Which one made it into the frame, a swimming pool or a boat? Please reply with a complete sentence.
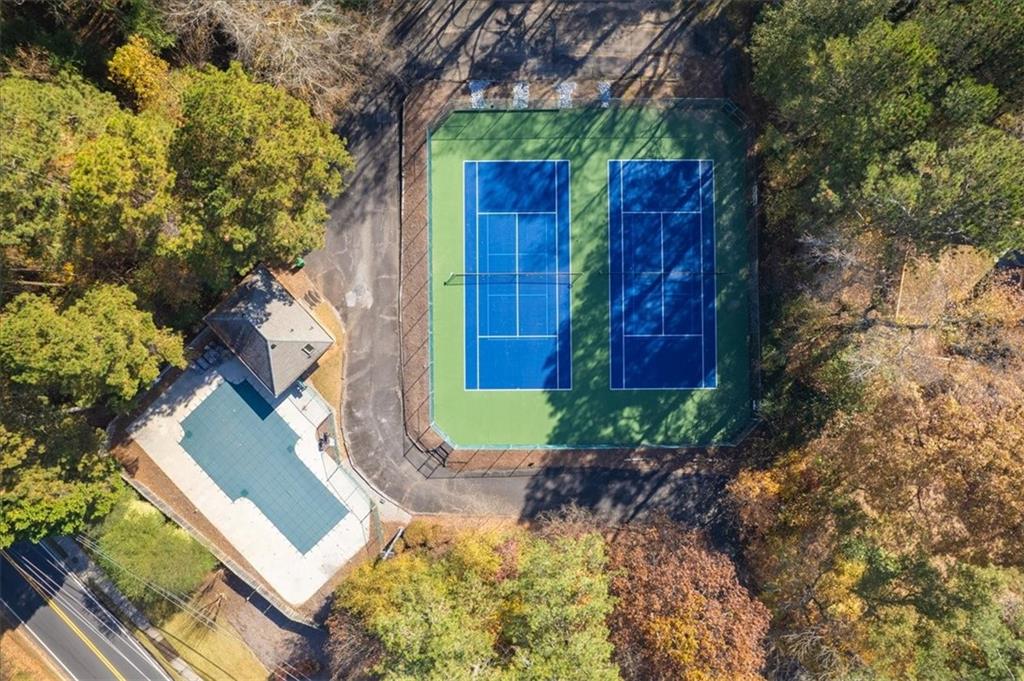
There is a swimming pool in the scene.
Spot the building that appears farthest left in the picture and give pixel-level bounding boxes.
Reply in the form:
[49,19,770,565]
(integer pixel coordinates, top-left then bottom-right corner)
[202,263,336,397]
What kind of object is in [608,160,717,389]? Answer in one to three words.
tennis court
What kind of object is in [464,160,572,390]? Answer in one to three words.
tennis court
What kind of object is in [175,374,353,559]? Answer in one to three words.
swimming pool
